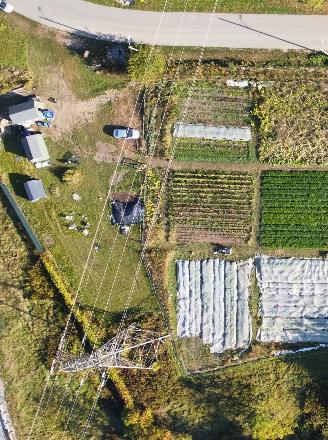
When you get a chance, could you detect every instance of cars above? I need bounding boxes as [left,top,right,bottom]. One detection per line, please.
[113,129,141,141]
[0,0,14,13]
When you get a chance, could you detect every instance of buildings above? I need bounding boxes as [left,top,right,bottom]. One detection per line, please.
[18,134,52,165]
[21,179,51,202]
[3,97,44,125]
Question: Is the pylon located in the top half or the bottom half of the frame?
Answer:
bottom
